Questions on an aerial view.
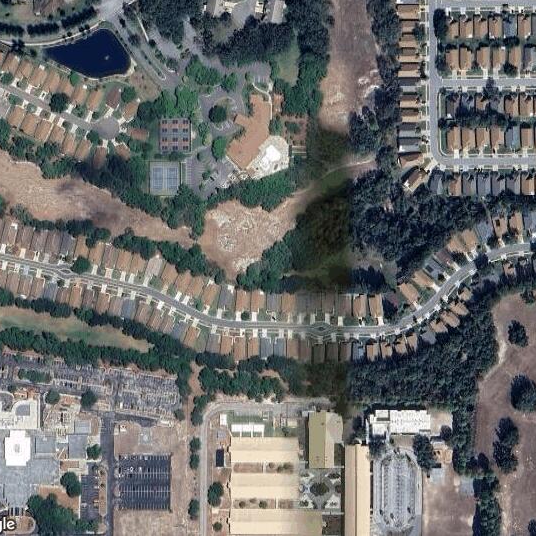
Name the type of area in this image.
residential area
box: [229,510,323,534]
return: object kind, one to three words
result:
building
